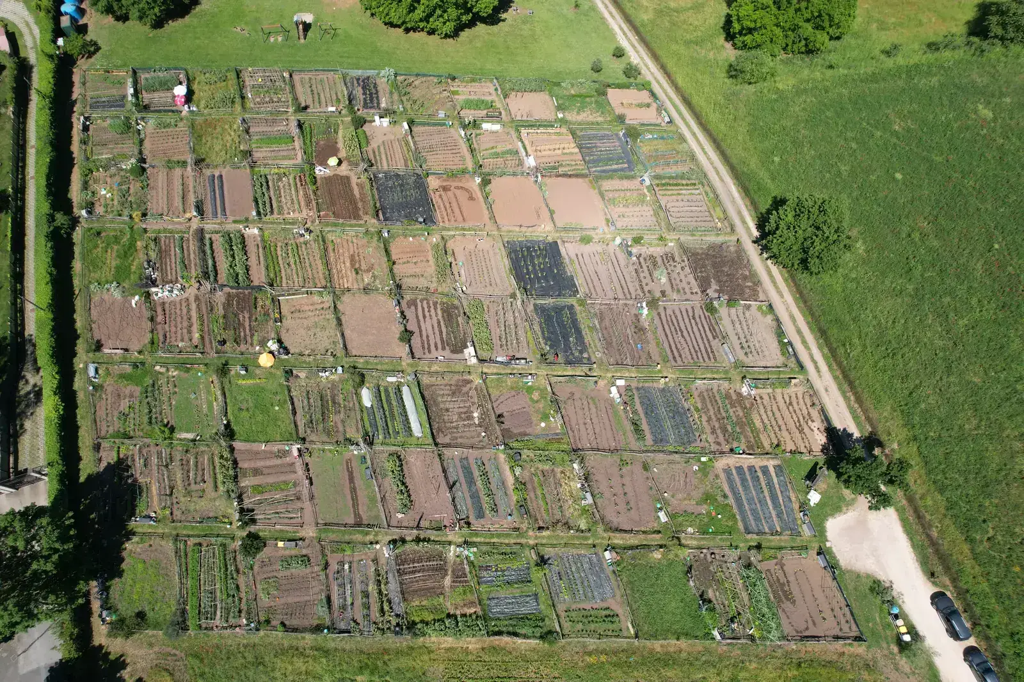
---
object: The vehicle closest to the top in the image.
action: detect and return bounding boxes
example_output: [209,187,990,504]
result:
[927,591,970,641]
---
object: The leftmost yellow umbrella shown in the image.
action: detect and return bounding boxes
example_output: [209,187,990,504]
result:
[259,353,276,371]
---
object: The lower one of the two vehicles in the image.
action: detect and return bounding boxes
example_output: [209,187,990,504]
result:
[960,649,998,682]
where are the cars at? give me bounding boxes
[927,591,970,641]
[960,649,998,682]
